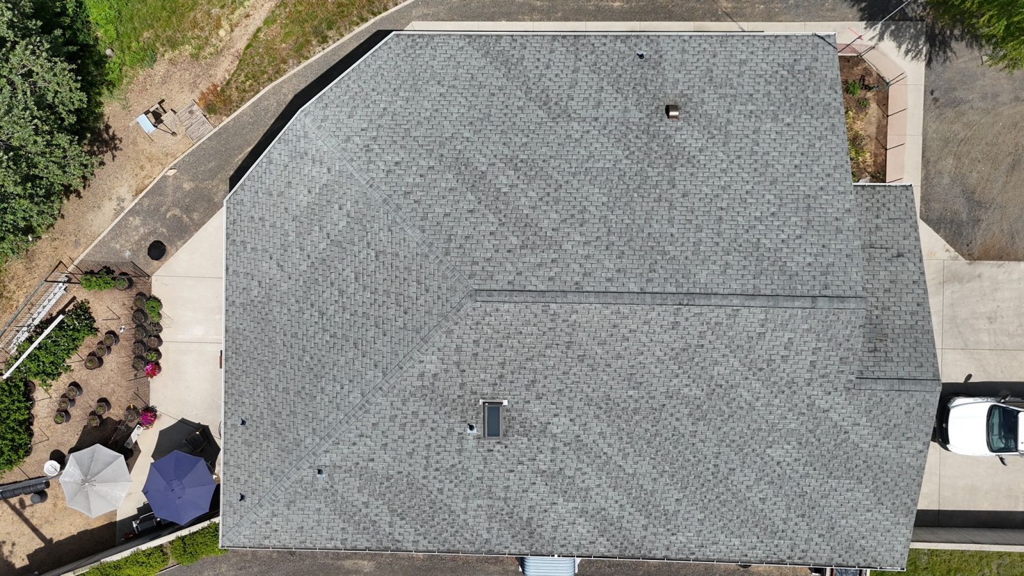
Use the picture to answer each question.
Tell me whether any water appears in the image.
No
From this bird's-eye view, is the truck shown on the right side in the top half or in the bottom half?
bottom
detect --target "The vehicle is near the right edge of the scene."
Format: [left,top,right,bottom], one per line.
[934,388,1024,467]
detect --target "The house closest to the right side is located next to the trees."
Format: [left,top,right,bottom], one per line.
[216,29,943,573]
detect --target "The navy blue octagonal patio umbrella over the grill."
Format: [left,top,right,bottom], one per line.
[143,450,217,525]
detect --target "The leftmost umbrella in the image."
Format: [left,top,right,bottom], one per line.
[60,444,137,517]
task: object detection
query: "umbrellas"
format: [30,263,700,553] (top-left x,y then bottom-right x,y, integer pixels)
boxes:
[143,450,217,525]
[60,444,137,517]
